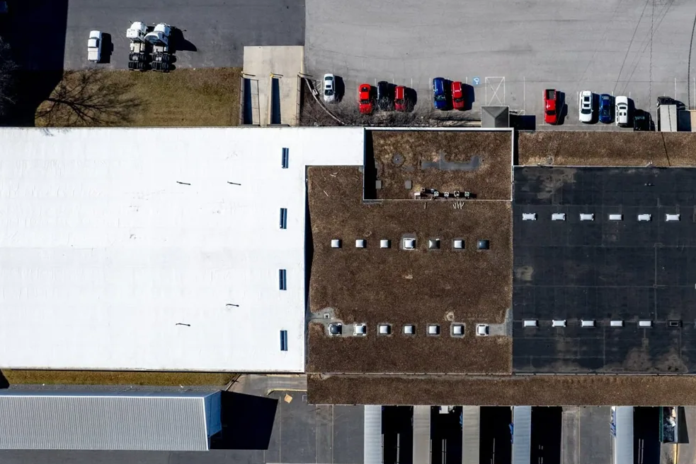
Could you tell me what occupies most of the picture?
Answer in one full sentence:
The largest share of the image is taken up by buildings.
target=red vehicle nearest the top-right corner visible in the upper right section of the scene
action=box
[543,88,560,124]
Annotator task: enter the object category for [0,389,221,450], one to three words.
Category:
shed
